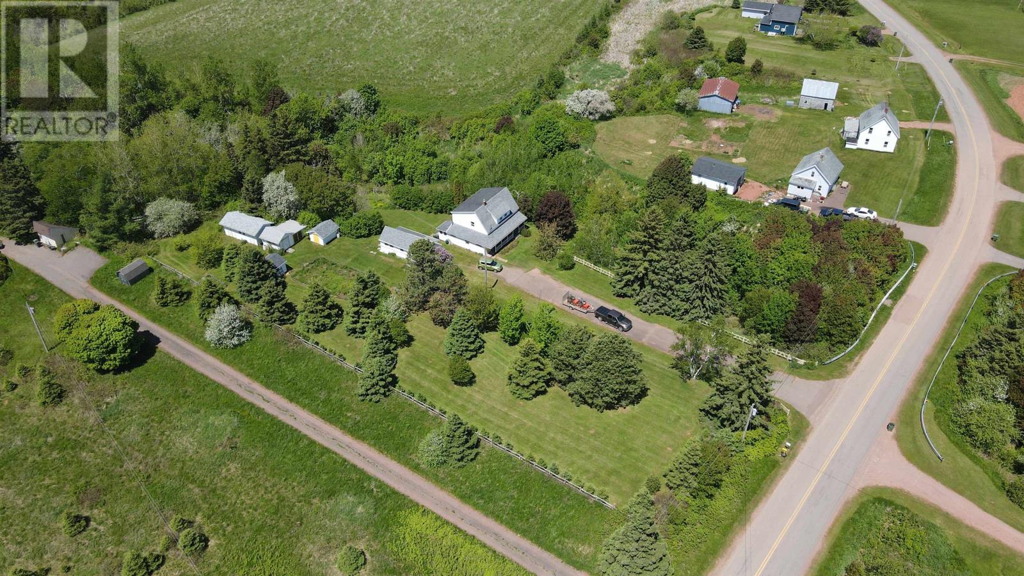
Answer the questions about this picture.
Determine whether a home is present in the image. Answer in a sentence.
Yes, this view includes a home.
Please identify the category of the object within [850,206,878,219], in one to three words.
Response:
vehicle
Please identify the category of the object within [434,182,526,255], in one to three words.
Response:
house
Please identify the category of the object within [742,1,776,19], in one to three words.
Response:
building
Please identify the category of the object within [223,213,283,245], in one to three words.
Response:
shed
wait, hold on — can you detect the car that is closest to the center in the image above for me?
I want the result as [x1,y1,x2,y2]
[476,256,503,272]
